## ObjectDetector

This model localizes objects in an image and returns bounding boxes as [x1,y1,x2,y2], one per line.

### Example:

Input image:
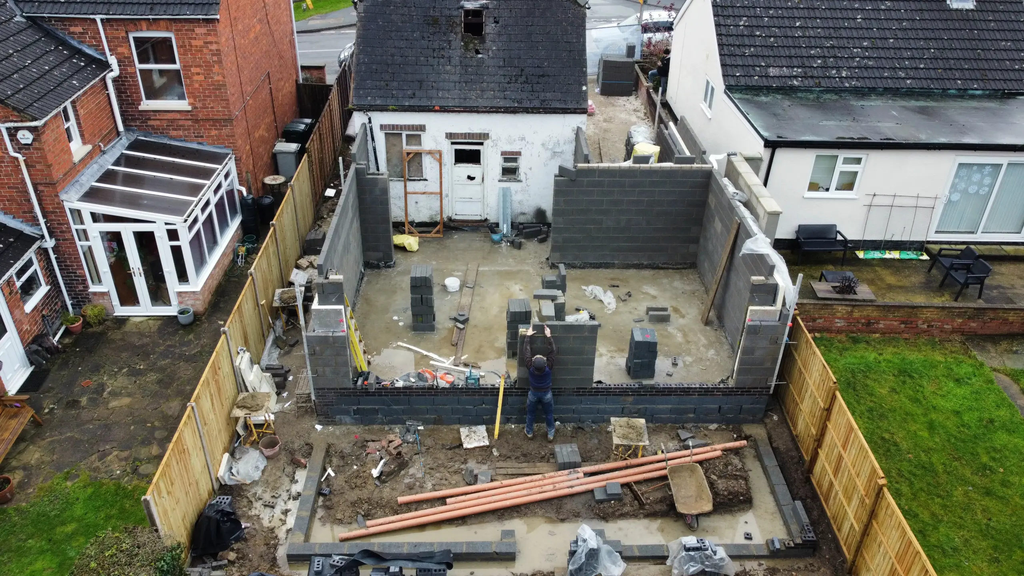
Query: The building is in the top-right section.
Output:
[669,0,1024,244]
